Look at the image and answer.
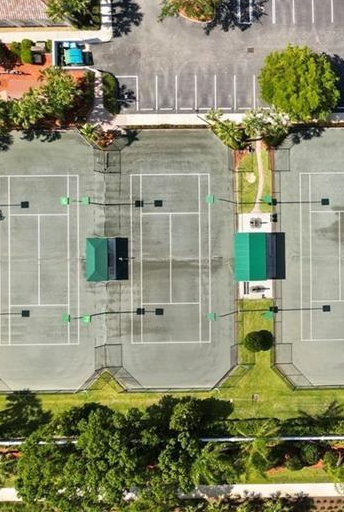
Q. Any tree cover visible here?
Yes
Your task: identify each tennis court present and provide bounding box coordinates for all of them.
[275,125,344,386]
[0,131,103,391]
[103,127,237,390]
